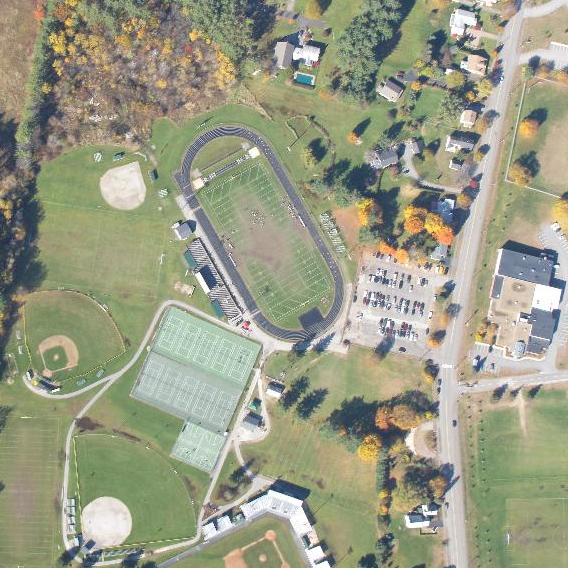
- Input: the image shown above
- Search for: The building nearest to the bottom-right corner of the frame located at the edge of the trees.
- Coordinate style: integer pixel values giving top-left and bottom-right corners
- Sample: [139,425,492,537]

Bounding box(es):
[405,507,436,528]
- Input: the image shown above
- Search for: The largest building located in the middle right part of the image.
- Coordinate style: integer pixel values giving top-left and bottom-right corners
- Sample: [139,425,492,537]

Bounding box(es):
[486,249,562,359]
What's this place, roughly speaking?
sports ground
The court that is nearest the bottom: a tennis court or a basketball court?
basketball court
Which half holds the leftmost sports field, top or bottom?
bottom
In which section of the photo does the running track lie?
center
